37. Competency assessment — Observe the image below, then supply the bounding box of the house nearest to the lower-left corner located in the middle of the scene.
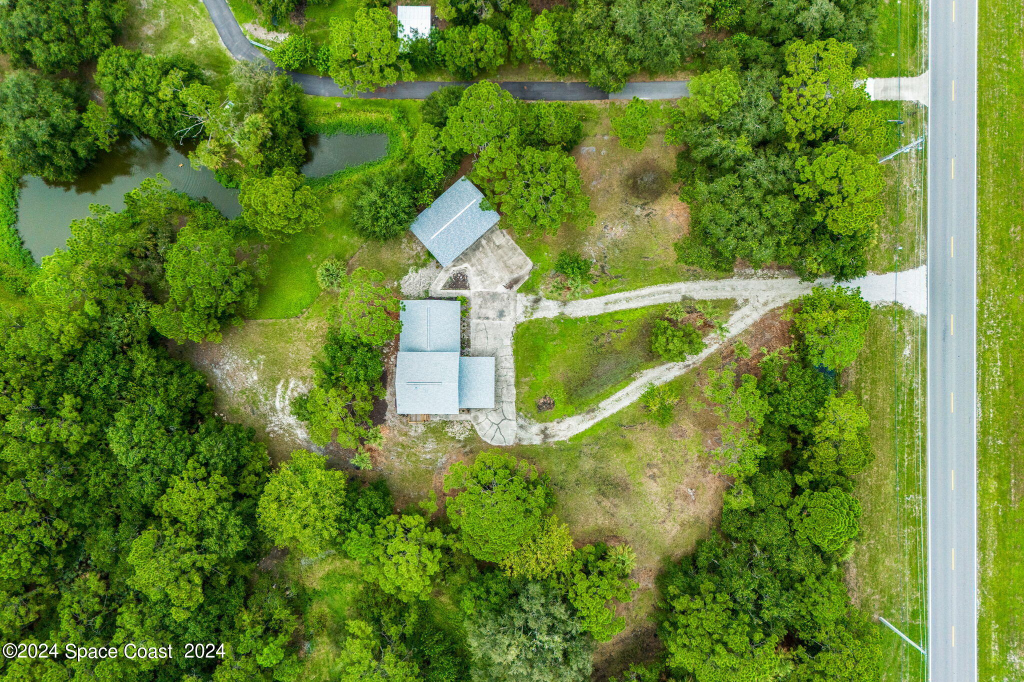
[395,299,495,414]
